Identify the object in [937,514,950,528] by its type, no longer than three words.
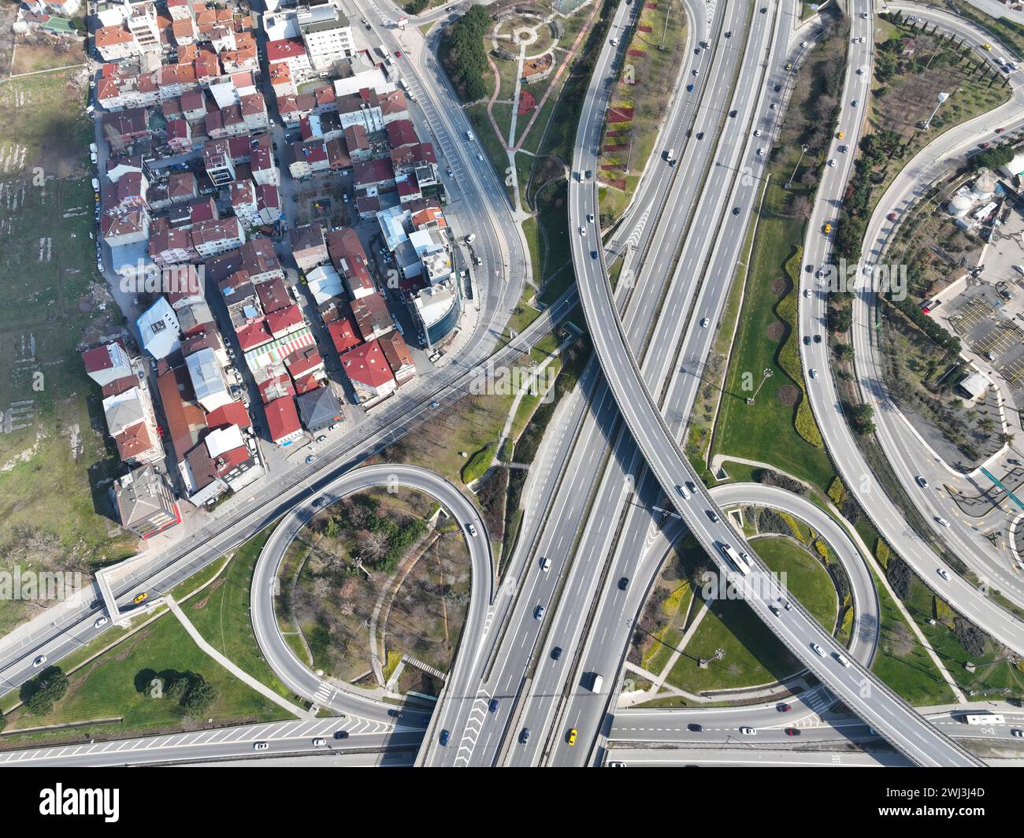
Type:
vehicle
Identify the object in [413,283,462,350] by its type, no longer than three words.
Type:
building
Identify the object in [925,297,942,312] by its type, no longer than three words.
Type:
vehicle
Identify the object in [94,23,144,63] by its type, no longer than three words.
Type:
house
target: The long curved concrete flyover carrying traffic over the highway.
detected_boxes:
[566,0,1024,838]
